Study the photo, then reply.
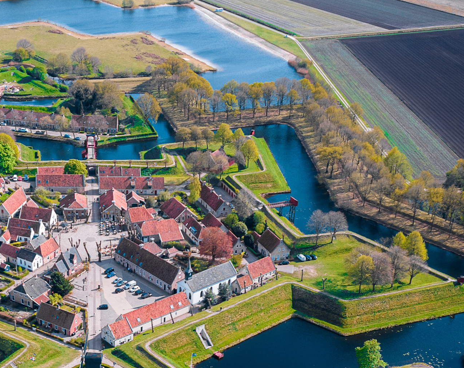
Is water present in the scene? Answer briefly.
Yes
